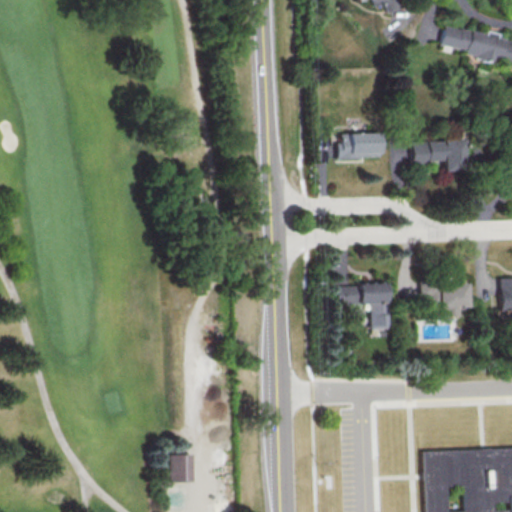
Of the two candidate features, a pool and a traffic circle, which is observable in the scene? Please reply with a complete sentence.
Of the two, only a pool appears.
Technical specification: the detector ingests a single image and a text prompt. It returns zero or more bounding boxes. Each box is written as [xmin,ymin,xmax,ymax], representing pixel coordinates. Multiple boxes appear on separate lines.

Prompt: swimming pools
[417,318,459,344]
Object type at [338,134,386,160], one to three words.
house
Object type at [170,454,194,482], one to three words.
barn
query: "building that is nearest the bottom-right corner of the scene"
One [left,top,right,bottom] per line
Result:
[423,447,512,512]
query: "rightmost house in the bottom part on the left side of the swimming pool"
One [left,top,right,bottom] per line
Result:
[339,283,394,332]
